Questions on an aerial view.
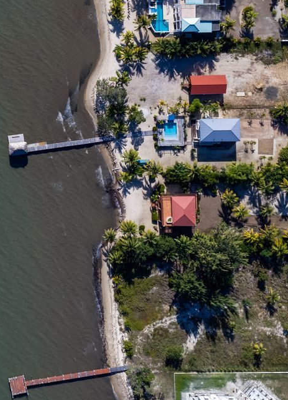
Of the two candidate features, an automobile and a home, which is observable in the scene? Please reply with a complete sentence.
This aerial view contains a home.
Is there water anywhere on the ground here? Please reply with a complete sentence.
Yes, some water is visible.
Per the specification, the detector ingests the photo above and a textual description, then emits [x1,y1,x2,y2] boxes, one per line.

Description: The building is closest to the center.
[159,192,197,232]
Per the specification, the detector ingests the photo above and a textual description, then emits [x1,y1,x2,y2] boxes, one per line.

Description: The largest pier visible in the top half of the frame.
[26,133,115,152]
